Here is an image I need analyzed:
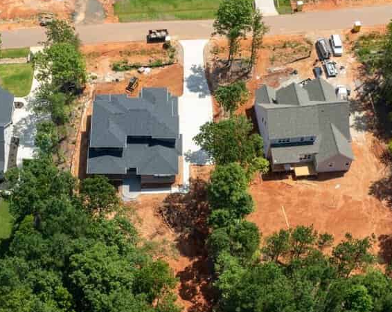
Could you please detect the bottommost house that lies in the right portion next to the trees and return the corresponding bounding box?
[252,77,356,180]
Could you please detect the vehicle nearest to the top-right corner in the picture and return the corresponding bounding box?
[330,29,345,54]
